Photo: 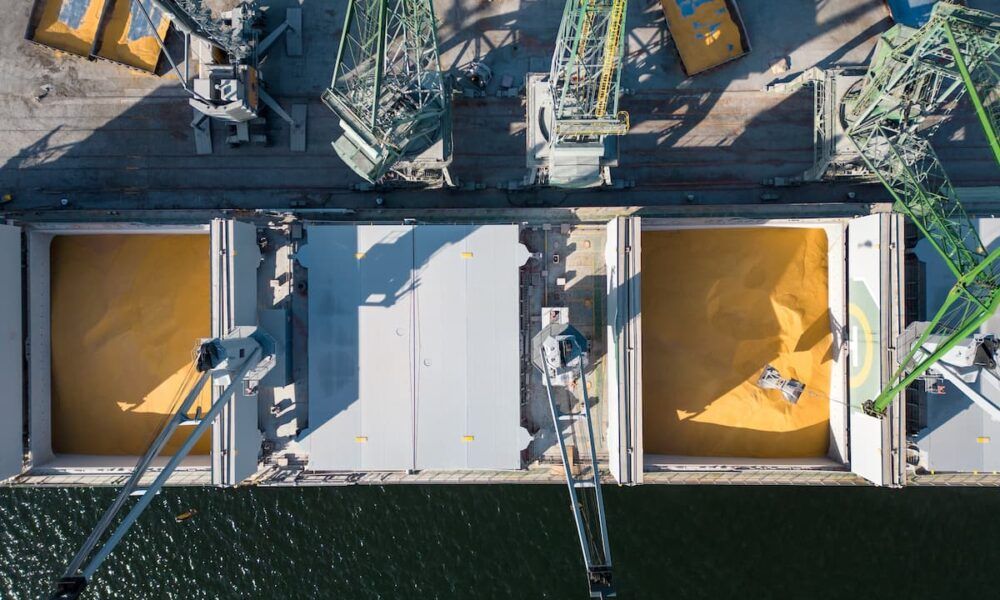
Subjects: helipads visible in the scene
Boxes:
[849,279,880,422]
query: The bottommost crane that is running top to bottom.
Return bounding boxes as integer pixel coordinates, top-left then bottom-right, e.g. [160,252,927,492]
[528,298,612,600]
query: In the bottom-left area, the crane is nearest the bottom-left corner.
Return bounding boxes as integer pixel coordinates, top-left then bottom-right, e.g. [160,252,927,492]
[56,301,297,600]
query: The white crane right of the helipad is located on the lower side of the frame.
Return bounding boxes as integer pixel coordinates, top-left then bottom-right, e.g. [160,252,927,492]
[891,315,1000,433]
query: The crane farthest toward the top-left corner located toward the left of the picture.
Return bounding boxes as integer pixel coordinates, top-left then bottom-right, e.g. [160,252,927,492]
[120,0,308,159]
